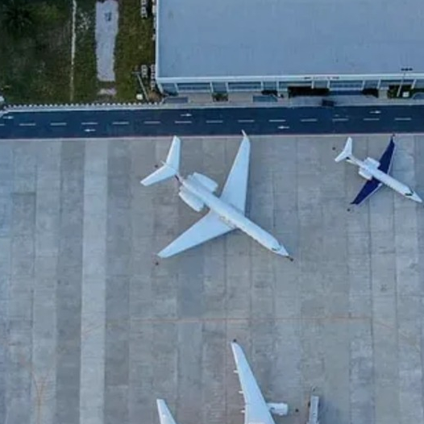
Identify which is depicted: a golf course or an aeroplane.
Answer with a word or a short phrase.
aeroplane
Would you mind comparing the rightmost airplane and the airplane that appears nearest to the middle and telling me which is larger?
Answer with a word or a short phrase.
the airplane that appears nearest to the middle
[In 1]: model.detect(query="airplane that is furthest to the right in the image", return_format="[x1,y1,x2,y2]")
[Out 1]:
[335,138,422,204]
